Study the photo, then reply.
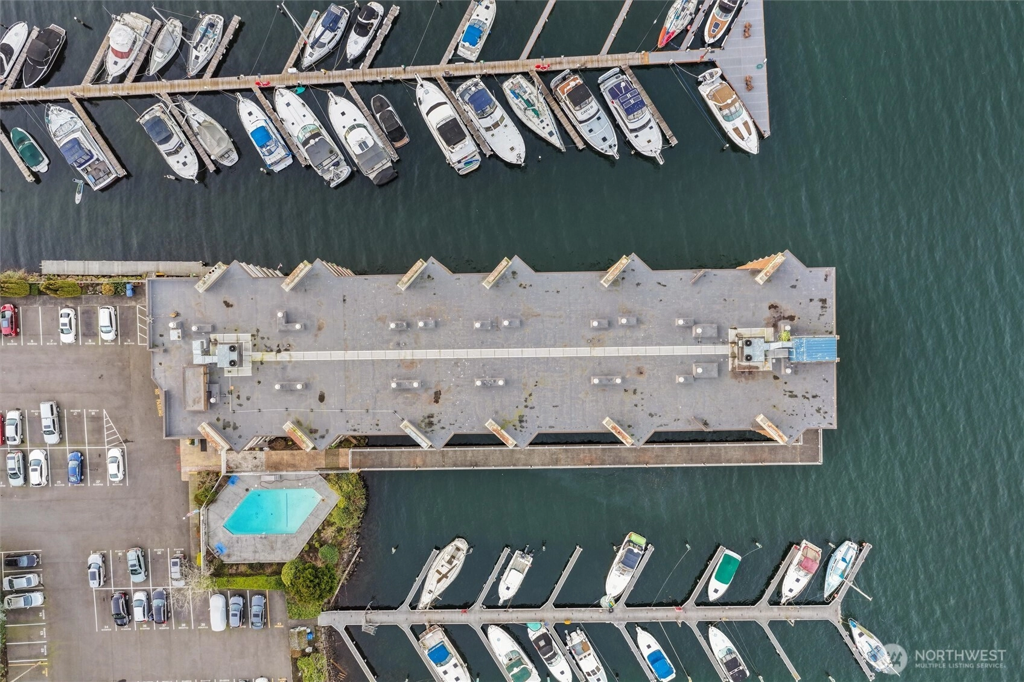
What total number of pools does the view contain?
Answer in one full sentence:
I count just 1 pool.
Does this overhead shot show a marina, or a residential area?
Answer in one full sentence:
It's a marina.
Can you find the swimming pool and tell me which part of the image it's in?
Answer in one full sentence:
The swimming pool is located in the bottom left region of the scene.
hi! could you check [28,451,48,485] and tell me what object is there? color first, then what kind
white car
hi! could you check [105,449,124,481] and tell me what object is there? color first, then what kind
white car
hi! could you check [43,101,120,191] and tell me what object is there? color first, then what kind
white boat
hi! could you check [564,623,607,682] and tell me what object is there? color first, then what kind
white boat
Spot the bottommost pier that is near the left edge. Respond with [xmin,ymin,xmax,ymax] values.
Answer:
[39,260,204,276]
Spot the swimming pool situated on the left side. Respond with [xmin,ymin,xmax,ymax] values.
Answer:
[208,473,338,563]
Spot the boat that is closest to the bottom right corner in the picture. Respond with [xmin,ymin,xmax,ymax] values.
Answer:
[850,622,896,681]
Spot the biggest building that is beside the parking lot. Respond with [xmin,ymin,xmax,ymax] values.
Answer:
[143,249,838,454]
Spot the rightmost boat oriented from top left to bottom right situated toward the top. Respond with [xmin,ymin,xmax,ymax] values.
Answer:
[695,79,760,155]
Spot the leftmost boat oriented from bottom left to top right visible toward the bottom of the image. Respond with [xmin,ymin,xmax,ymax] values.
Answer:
[419,534,470,614]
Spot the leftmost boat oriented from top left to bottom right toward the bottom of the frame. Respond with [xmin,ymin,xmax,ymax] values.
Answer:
[424,624,470,682]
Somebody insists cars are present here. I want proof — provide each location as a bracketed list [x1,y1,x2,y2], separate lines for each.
[249,595,266,628]
[0,305,18,335]
[127,549,146,581]
[3,574,37,591]
[147,589,169,623]
[132,592,150,622]
[58,308,77,341]
[5,451,26,485]
[4,553,36,569]
[39,404,62,441]
[227,595,245,627]
[65,452,84,482]
[4,592,41,609]
[97,306,116,339]
[28,451,48,485]
[2,411,22,444]
[167,555,186,586]
[111,593,131,626]
[105,449,124,481]
[86,554,106,587]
